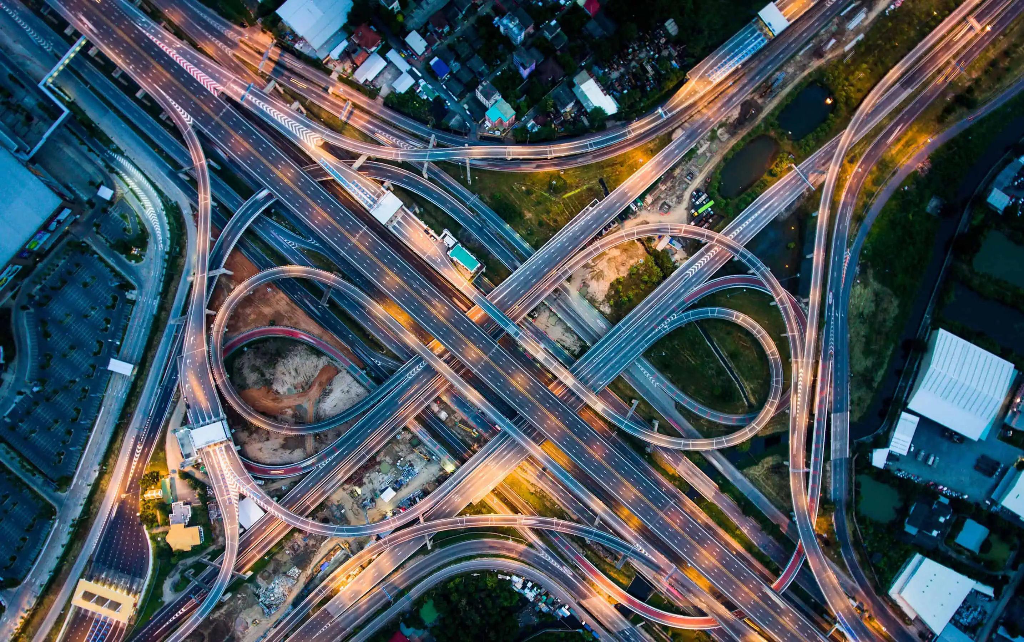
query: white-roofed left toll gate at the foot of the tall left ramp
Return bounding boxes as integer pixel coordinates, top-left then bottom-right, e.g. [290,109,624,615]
[190,421,231,460]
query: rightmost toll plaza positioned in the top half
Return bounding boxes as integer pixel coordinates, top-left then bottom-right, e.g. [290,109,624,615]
[748,0,793,48]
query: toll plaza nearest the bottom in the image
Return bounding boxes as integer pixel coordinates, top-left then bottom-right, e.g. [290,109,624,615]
[66,566,141,642]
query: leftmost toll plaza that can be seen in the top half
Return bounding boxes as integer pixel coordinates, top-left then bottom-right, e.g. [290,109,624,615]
[370,186,412,233]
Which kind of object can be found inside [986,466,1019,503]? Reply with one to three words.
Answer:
shed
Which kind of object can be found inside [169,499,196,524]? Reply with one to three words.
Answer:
house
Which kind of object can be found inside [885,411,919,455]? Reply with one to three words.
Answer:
building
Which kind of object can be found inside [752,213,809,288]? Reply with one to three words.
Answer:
pond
